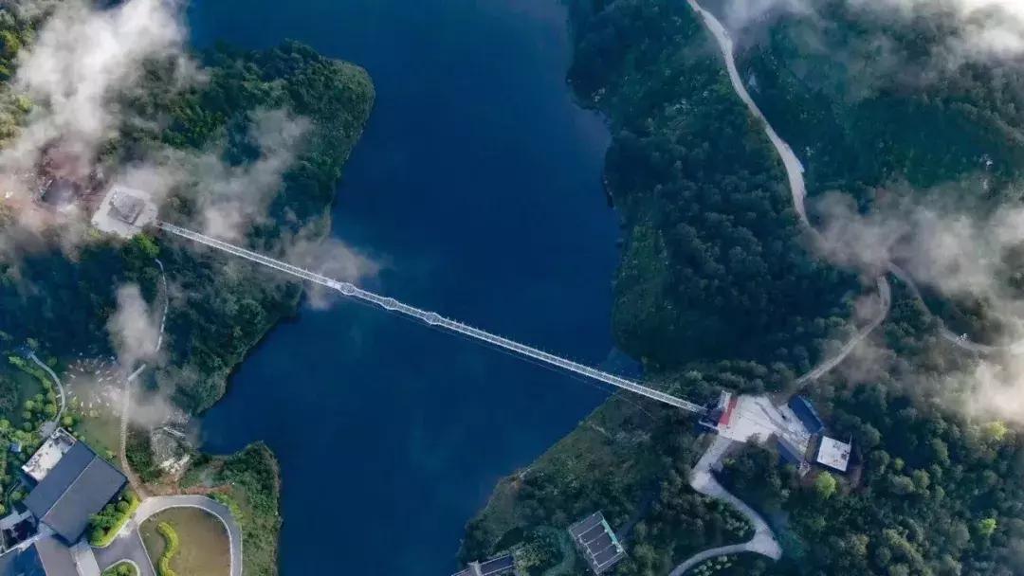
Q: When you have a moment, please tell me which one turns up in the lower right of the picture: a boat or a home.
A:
home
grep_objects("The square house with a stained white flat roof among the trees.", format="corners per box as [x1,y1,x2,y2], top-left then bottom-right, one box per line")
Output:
[816,433,852,472]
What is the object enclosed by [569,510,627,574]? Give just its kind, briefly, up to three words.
building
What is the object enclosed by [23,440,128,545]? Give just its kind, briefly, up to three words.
building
